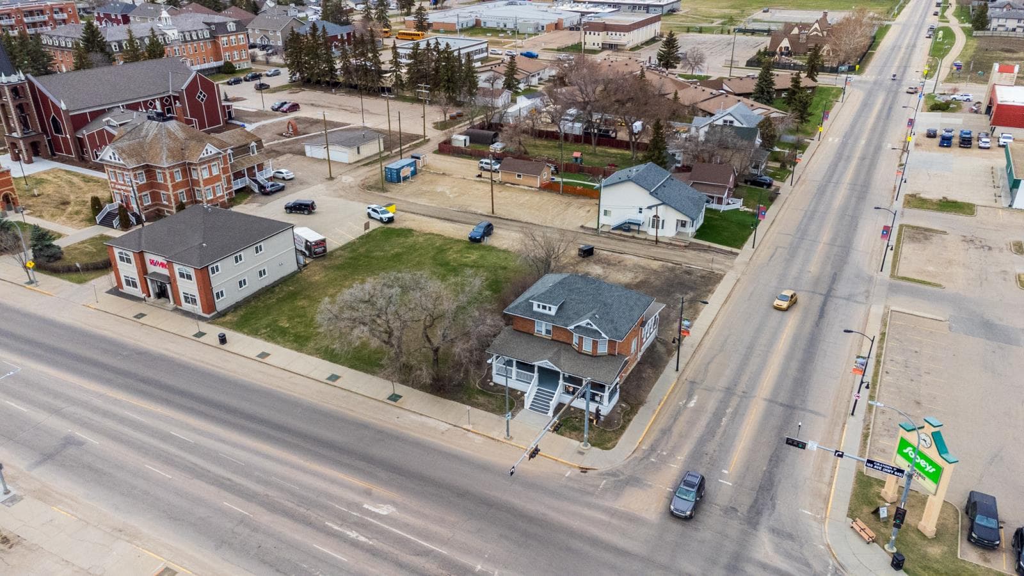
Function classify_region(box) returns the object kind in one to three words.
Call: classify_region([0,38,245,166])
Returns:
church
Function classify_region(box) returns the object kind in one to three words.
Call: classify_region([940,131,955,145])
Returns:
vehicle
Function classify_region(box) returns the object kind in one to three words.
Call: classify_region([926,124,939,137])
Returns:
vehicle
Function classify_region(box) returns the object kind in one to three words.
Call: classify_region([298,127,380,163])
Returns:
building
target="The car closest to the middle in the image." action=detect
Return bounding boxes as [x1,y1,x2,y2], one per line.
[467,218,497,239]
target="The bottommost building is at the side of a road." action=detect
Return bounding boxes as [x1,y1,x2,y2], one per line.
[482,271,675,420]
